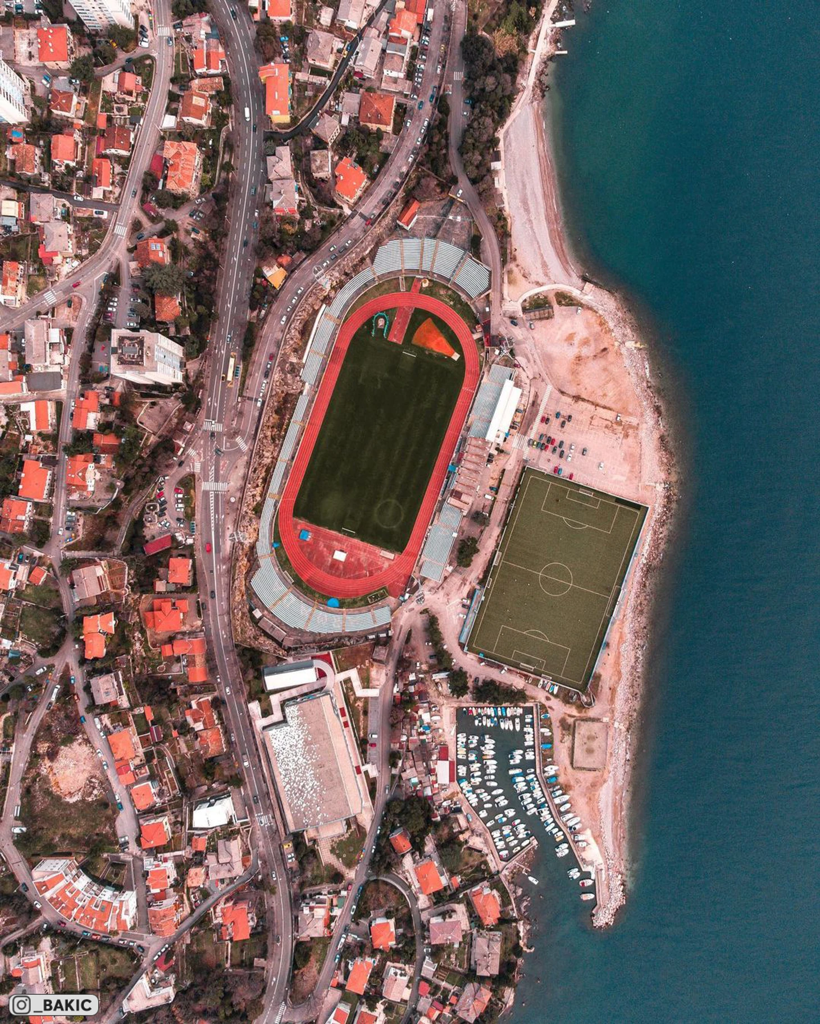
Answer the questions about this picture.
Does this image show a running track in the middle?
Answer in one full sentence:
Yes, a running track appears in the middle.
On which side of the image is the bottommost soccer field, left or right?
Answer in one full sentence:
The bottommost soccer field sits on the right side.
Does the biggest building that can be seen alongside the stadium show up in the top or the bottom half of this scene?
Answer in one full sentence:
It is in the bottom half that the biggest building that can be seen alongside the stadium appears.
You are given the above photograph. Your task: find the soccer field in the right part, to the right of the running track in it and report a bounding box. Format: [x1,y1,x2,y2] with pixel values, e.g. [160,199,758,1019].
[466,468,648,690]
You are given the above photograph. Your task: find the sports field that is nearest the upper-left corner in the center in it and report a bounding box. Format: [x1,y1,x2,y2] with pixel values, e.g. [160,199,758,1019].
[293,308,462,554]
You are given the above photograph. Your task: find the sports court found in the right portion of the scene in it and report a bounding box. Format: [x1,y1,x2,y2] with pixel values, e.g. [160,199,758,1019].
[574,721,608,770]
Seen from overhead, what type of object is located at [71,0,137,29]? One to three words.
building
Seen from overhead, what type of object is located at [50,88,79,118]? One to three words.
house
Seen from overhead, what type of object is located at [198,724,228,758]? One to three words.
house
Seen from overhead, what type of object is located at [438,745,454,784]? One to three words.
building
